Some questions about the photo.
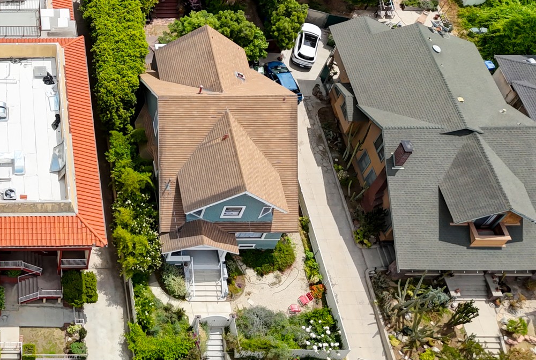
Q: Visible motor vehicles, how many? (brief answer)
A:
2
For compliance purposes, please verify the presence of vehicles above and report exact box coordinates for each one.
[258,60,310,108]
[291,25,323,74]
